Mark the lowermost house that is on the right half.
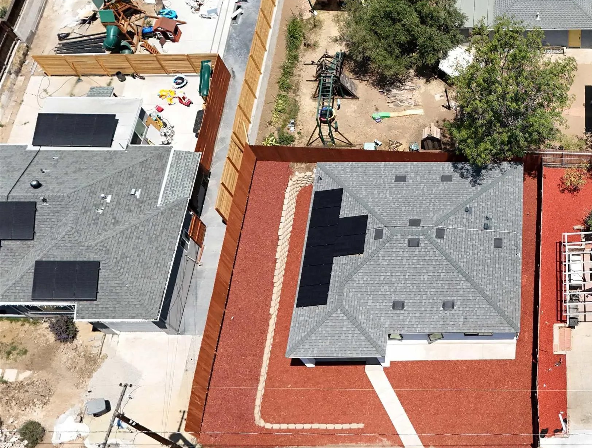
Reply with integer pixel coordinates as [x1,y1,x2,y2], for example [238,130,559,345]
[283,161,525,368]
